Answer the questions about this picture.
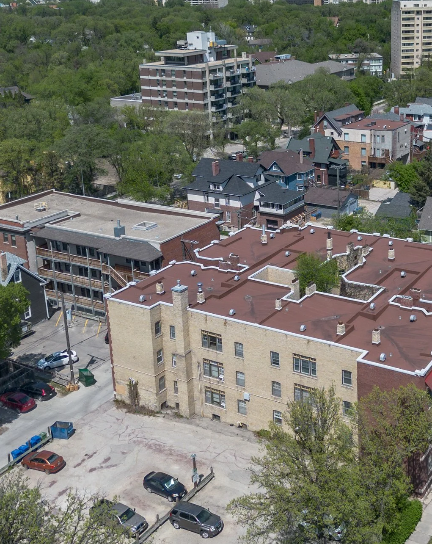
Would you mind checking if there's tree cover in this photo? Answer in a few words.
Yes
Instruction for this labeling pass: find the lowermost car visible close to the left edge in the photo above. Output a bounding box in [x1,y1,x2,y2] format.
[18,448,65,475]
